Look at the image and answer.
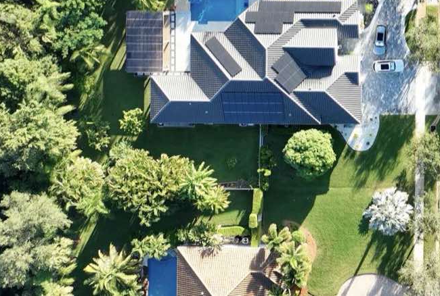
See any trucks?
No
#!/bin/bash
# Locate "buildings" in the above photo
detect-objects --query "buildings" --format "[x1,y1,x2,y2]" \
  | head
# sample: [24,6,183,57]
[150,0,363,125]
[176,243,292,296]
